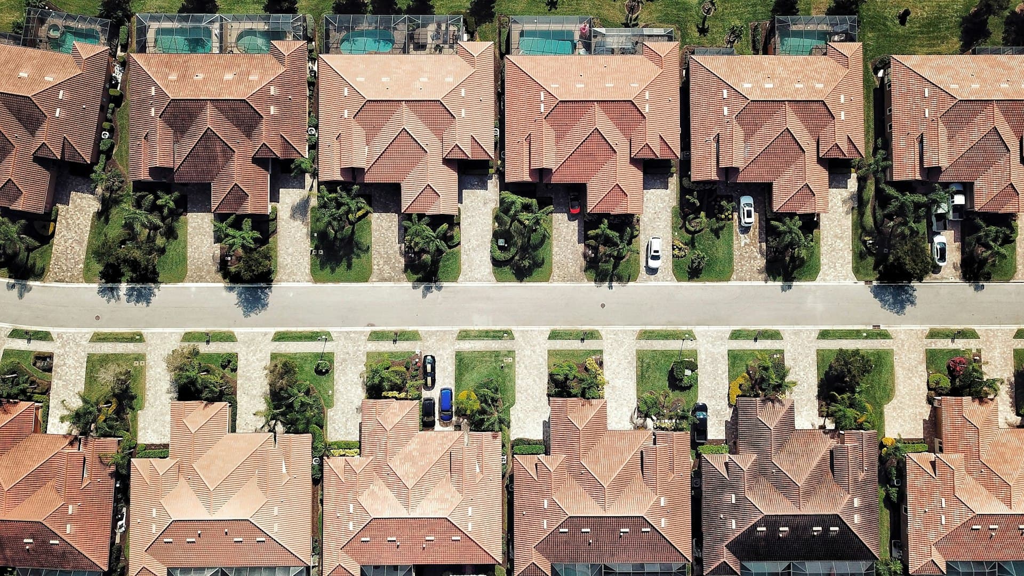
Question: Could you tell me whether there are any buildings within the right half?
Yes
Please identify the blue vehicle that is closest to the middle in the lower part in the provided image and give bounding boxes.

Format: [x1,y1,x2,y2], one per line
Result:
[438,388,453,422]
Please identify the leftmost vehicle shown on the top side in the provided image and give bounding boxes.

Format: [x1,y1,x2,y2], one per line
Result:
[567,188,582,217]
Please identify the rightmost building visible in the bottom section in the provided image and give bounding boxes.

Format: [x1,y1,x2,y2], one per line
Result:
[899,396,1024,575]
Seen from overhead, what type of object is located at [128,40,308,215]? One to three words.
house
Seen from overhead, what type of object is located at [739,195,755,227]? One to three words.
car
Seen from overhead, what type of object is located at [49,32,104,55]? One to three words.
swimming pool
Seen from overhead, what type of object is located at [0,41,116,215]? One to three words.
house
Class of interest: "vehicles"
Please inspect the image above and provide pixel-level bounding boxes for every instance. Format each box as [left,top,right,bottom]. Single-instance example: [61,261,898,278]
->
[421,354,436,388]
[932,196,950,233]
[693,401,709,442]
[739,195,755,227]
[567,188,582,217]
[647,236,662,268]
[438,388,453,422]
[421,397,436,428]
[947,183,967,220]
[930,235,948,267]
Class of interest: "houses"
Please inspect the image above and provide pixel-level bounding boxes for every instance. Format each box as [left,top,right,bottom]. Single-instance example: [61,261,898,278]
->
[129,400,313,576]
[0,398,123,571]
[513,397,692,576]
[318,41,495,215]
[899,396,1024,575]
[689,42,865,214]
[0,41,116,215]
[884,49,1024,213]
[323,398,503,576]
[128,40,308,215]
[700,396,881,576]
[505,41,680,215]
